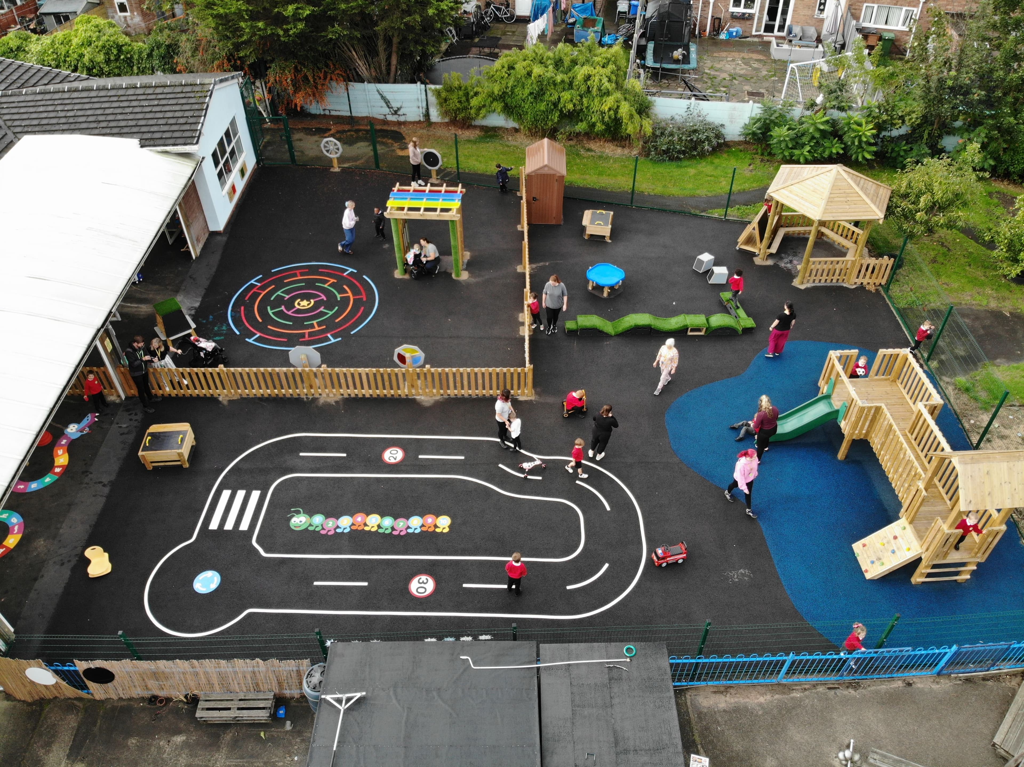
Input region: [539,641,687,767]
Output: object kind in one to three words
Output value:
building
